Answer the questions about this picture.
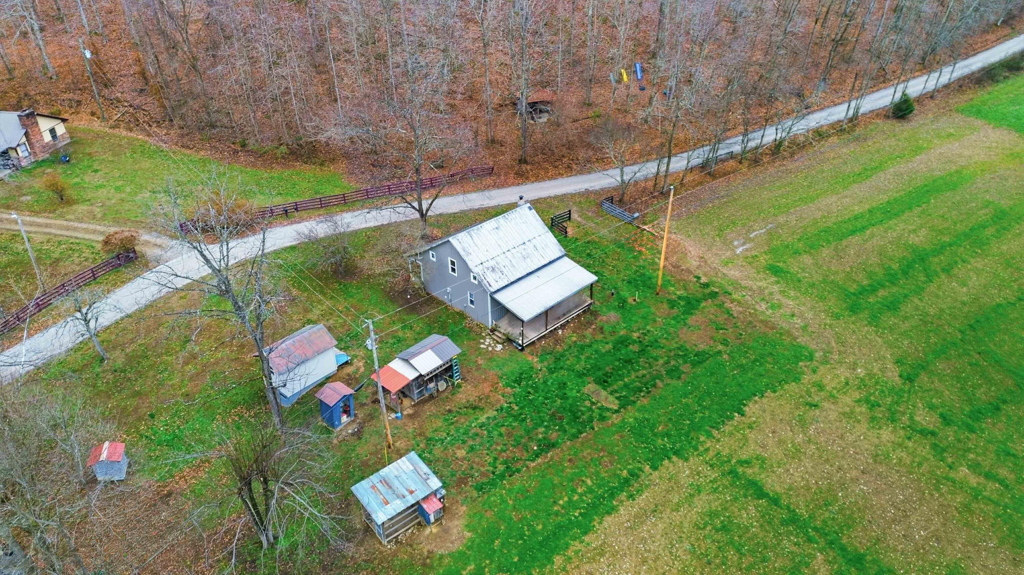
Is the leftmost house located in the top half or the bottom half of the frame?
top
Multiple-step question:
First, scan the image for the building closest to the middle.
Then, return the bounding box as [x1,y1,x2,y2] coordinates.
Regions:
[403,195,600,347]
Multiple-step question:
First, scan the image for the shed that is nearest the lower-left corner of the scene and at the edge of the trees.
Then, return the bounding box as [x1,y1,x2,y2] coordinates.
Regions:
[85,436,136,481]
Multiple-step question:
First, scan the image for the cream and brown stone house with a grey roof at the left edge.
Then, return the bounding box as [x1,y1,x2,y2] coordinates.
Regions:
[0,110,74,181]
